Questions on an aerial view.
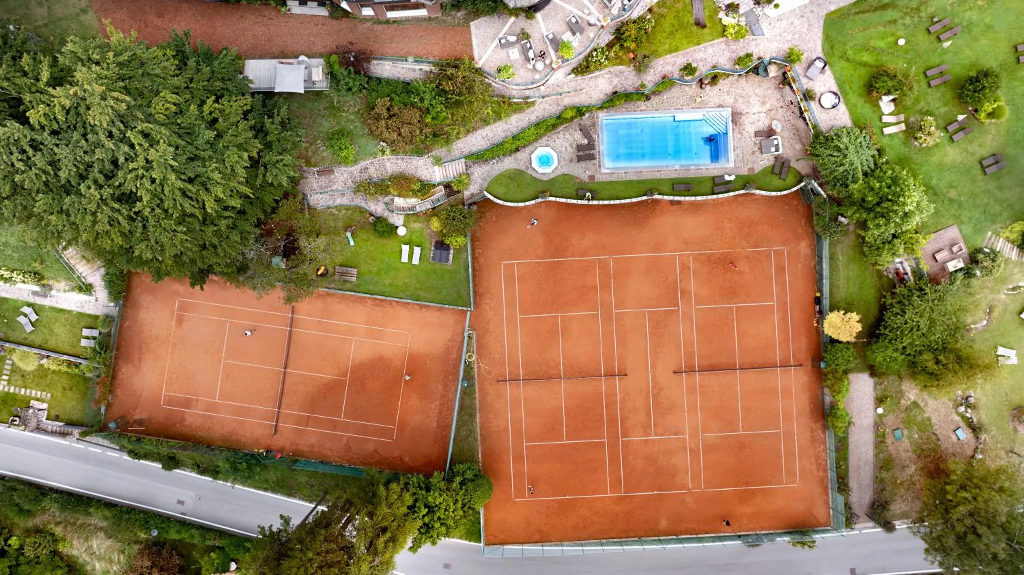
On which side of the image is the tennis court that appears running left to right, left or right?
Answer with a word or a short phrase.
left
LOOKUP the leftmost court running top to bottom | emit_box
[470,195,624,543]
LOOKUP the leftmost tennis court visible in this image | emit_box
[104,273,472,477]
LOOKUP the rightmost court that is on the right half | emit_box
[676,184,830,533]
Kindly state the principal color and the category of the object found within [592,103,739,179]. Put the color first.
blue swimming pool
